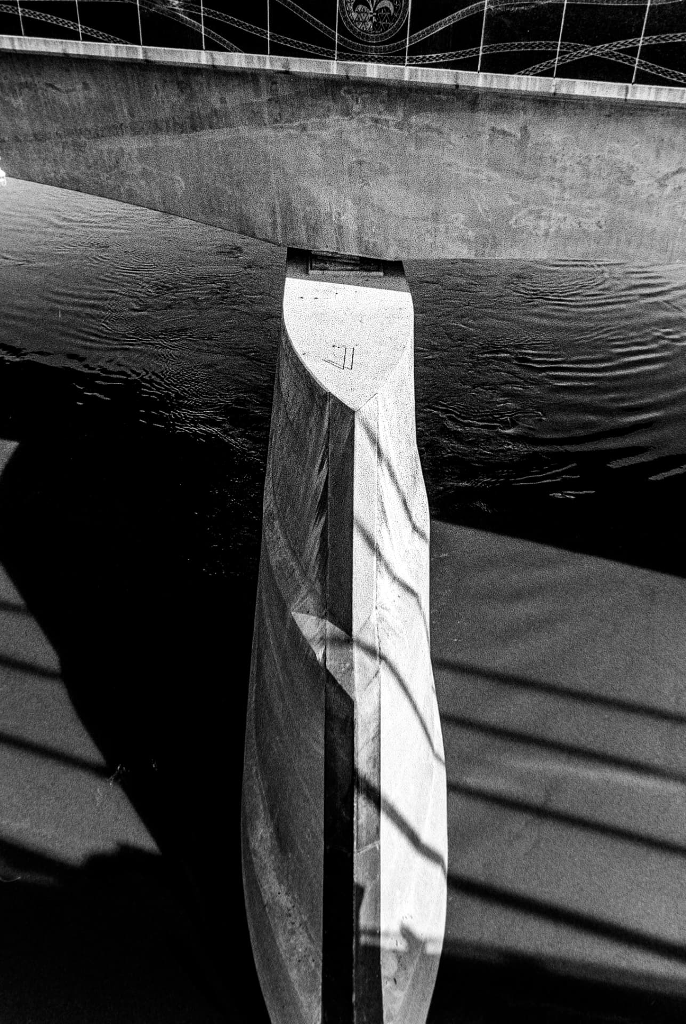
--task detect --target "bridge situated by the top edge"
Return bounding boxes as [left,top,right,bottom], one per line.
[0,0,686,262]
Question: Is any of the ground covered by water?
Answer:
Yes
